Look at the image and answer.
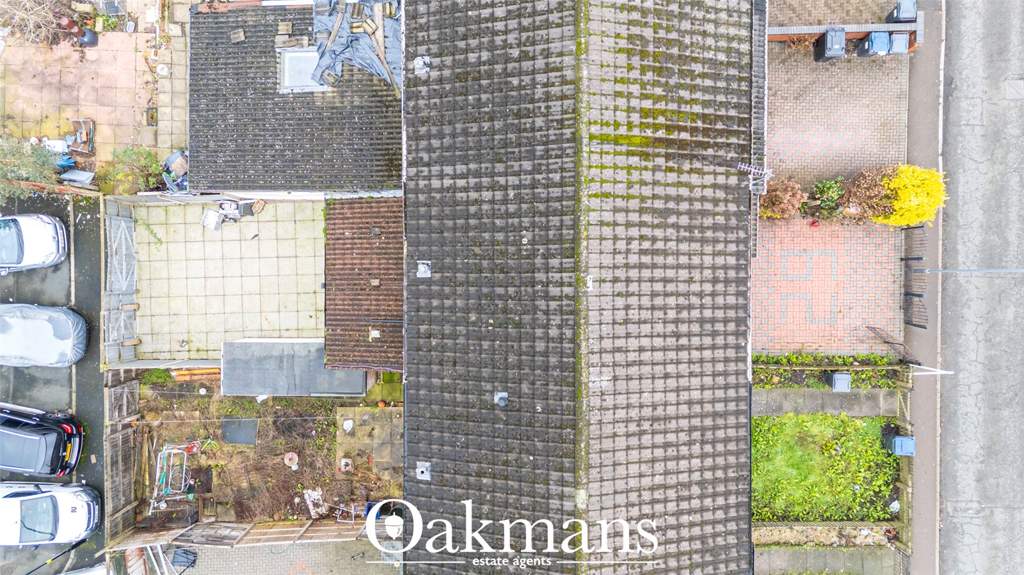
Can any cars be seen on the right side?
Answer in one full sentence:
No, no car can be made out on the right side.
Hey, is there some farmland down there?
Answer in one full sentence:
No, the picture contains no farmland.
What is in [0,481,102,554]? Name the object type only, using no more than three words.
car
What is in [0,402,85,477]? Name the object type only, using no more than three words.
car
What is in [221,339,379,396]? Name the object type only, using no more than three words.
shed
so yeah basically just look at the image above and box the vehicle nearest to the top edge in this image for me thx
[0,210,68,274]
